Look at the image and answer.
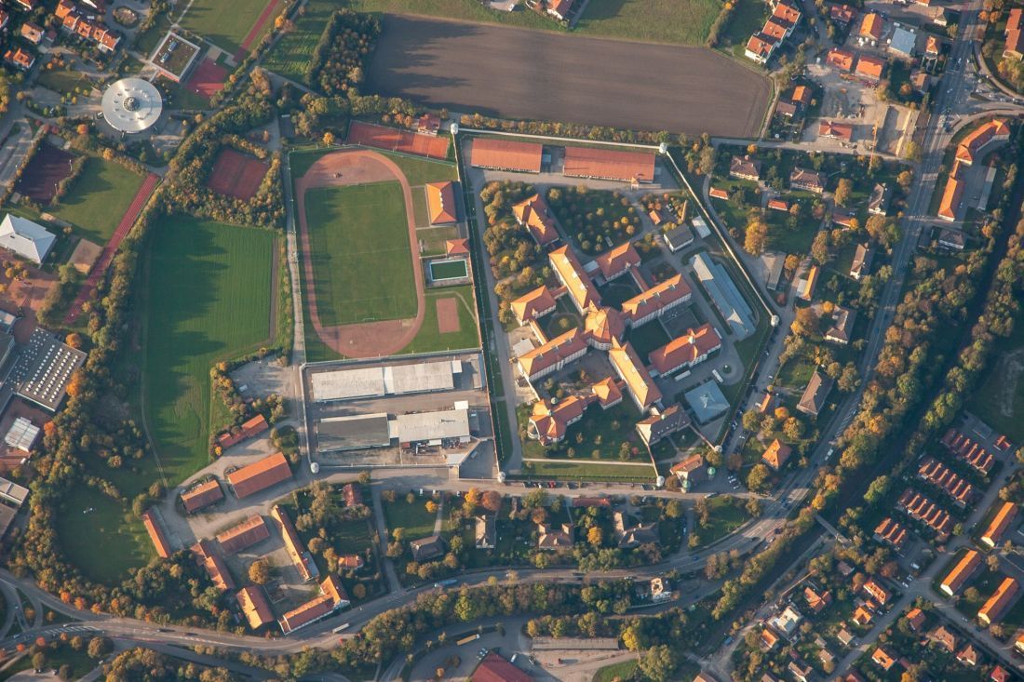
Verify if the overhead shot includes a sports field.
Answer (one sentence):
Yes, the picture does show a sports field.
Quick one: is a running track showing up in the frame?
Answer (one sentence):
Yes, there is a running track in the image.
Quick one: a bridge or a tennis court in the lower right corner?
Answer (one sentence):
What appears in the lower right corner is a bridge.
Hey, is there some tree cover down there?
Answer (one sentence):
Yes, there is tree cover in the image.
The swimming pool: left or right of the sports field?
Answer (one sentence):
To the right of the sports field is where the swimming pool appears.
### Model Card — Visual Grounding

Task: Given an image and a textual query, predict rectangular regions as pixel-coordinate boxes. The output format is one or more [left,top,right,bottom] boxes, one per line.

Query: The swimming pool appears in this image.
[424,253,473,288]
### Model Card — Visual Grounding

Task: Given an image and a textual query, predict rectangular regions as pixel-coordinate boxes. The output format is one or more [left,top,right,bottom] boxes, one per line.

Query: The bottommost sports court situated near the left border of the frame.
[16,138,79,199]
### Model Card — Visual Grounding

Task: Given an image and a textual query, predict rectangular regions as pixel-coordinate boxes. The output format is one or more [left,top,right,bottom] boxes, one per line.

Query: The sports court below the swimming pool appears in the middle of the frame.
[437,298,460,334]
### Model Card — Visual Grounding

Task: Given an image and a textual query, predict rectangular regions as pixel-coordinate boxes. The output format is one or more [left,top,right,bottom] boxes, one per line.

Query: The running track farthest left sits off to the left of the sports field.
[64,173,160,322]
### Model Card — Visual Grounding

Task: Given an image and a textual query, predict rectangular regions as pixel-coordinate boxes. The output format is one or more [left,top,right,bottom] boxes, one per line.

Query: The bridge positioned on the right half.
[792,502,869,563]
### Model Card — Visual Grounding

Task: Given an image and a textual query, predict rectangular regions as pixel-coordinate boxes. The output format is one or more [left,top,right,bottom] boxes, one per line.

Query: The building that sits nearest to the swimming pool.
[446,239,468,256]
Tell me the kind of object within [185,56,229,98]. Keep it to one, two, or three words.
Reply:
sports court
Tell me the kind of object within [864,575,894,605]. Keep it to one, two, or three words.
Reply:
house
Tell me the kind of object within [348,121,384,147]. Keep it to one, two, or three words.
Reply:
tennis court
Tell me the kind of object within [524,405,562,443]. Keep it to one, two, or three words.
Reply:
building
